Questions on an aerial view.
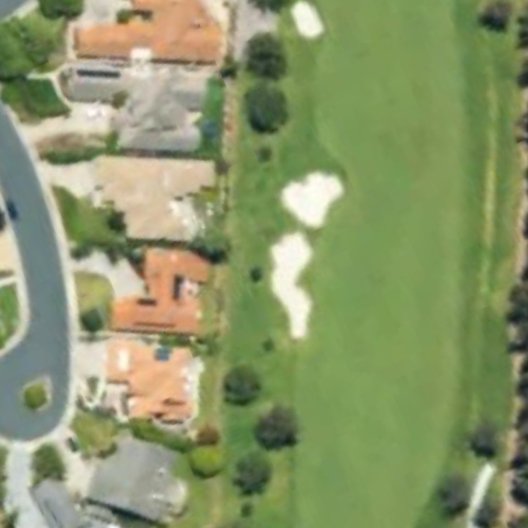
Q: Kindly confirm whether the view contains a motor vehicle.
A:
Yes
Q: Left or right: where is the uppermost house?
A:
left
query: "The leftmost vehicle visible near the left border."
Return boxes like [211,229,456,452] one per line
[4,197,21,221]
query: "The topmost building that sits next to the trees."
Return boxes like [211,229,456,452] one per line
[75,0,231,68]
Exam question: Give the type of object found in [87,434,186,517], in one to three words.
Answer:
house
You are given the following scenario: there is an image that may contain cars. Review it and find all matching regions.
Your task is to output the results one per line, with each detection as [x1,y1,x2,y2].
[64,435,82,456]
[4,197,21,221]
